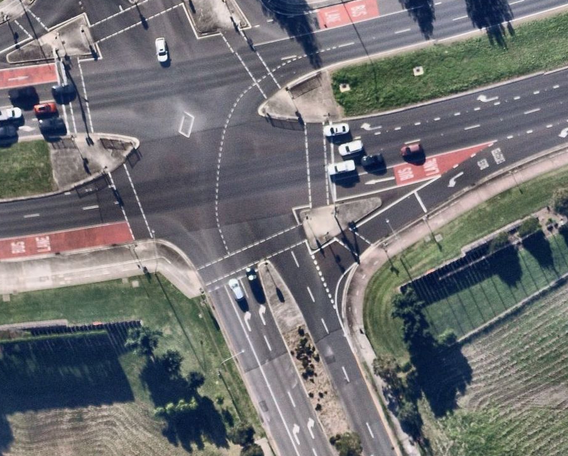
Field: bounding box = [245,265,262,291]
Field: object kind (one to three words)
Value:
car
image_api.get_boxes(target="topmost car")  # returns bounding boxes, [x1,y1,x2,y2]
[155,38,168,64]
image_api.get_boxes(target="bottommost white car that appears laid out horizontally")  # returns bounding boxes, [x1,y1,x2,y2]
[328,162,355,176]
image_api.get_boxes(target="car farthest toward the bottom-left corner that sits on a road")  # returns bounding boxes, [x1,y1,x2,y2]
[231,279,246,302]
